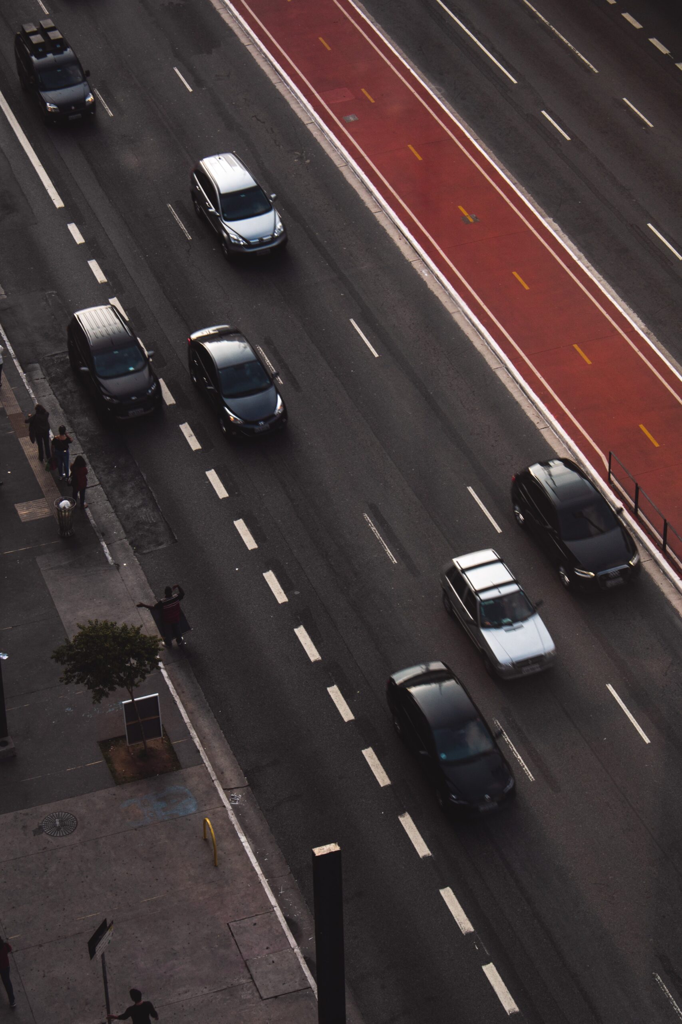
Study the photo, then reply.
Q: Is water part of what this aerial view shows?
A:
No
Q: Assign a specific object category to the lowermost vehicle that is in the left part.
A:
automobile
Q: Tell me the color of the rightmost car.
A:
black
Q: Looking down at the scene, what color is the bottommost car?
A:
black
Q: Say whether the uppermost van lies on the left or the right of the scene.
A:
left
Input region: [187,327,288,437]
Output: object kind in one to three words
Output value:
car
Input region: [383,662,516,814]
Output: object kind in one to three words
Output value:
car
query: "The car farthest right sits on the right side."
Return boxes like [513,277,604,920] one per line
[510,457,637,586]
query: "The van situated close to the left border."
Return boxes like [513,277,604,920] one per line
[15,27,95,124]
